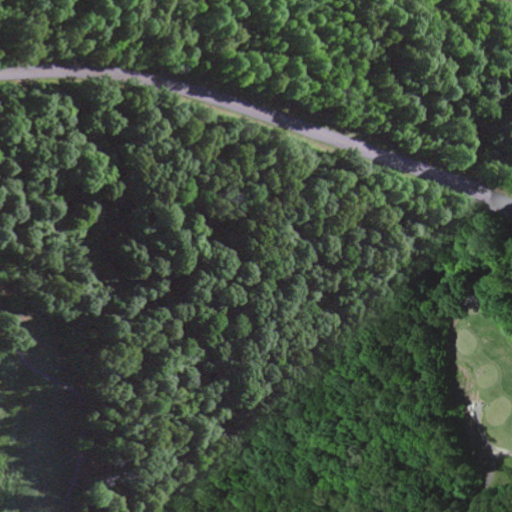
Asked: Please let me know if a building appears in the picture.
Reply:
No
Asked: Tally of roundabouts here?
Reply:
0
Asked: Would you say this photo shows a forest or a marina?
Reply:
forest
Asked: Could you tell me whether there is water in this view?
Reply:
No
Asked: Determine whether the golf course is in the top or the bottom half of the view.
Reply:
bottom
